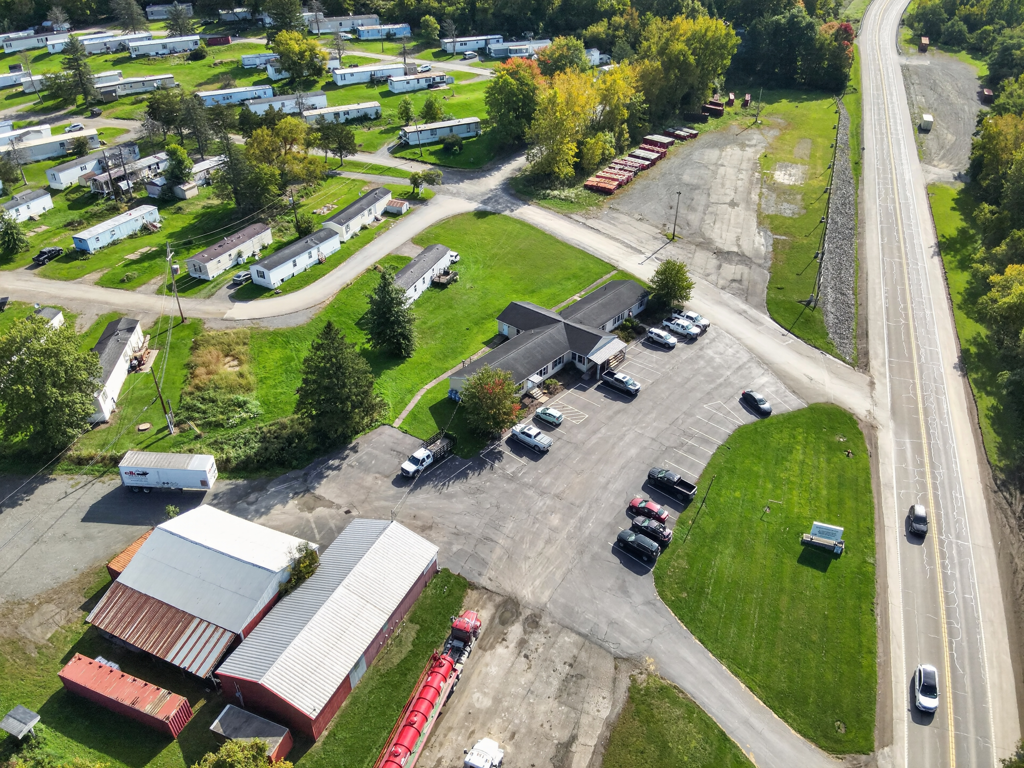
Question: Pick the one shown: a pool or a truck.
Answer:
truck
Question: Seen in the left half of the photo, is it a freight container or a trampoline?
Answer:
freight container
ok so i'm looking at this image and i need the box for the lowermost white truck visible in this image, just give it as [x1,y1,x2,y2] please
[465,733,507,768]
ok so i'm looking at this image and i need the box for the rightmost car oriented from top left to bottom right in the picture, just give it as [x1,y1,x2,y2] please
[738,391,774,418]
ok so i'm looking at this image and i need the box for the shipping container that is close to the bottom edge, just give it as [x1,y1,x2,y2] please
[59,652,193,738]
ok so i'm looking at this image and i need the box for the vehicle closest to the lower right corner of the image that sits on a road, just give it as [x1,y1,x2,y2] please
[911,662,943,717]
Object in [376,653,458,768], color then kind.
red trailer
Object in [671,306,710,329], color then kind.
white truck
